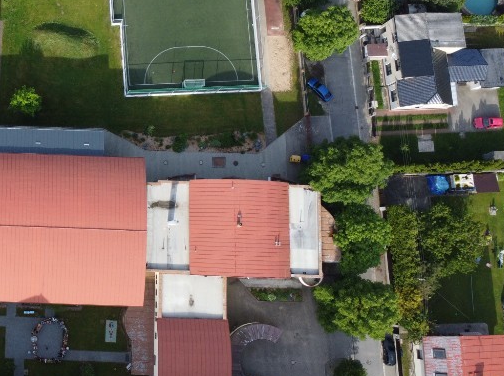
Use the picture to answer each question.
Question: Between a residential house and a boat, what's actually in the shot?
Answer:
residential house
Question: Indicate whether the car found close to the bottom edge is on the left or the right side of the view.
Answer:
right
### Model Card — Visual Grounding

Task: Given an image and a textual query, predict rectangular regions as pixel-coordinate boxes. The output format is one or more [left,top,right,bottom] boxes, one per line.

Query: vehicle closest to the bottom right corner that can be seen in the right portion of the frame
[379,332,399,366]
